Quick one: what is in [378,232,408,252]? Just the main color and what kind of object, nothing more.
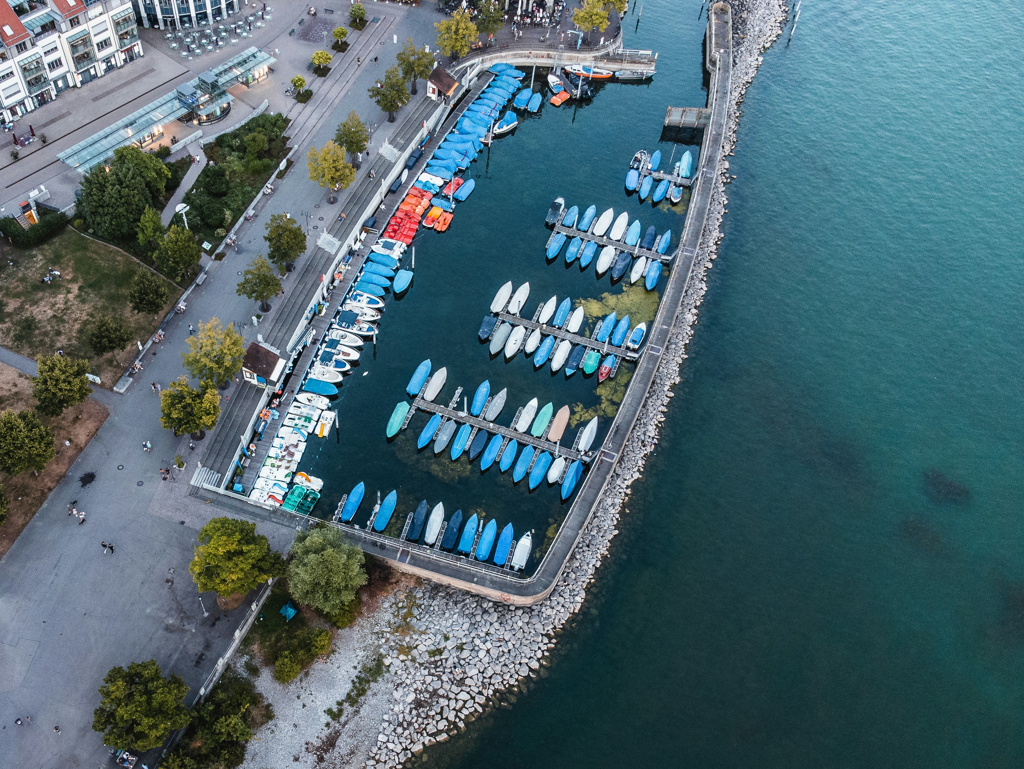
white boat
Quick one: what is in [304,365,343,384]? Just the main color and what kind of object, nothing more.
white boat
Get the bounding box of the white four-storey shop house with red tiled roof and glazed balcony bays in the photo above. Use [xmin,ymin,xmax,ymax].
[0,0,144,123]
